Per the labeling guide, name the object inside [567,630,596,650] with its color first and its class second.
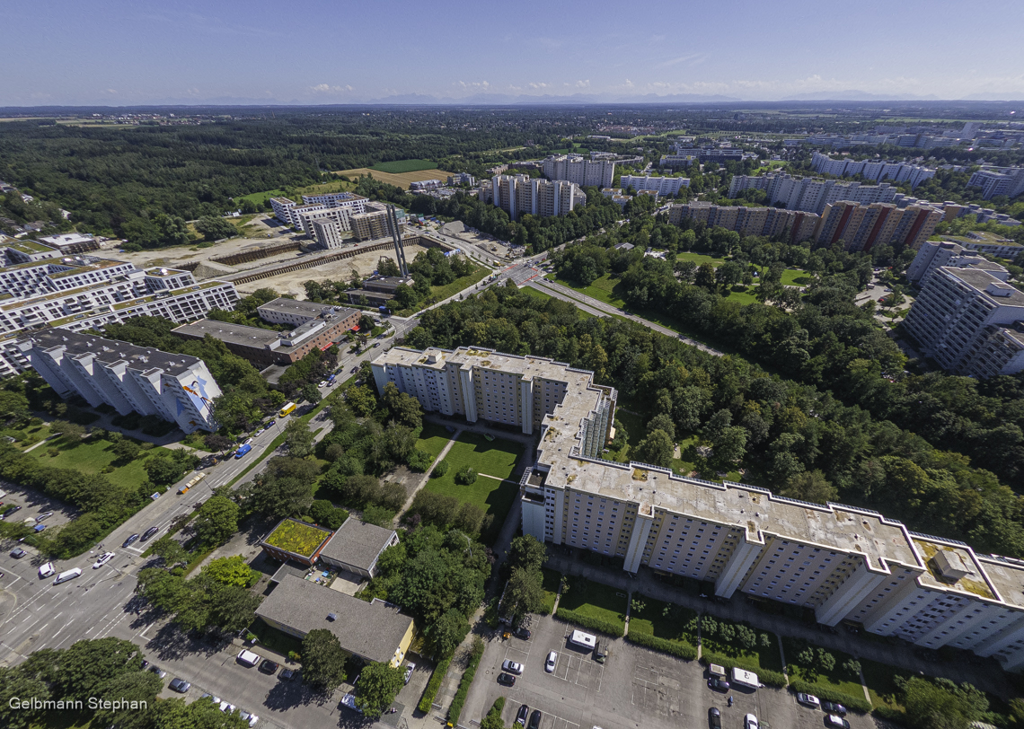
white camper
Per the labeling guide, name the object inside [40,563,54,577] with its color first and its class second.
white car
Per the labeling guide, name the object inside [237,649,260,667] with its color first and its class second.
white vehicle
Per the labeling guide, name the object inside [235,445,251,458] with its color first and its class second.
blue vehicle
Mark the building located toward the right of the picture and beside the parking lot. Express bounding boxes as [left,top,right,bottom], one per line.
[371,346,1024,672]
